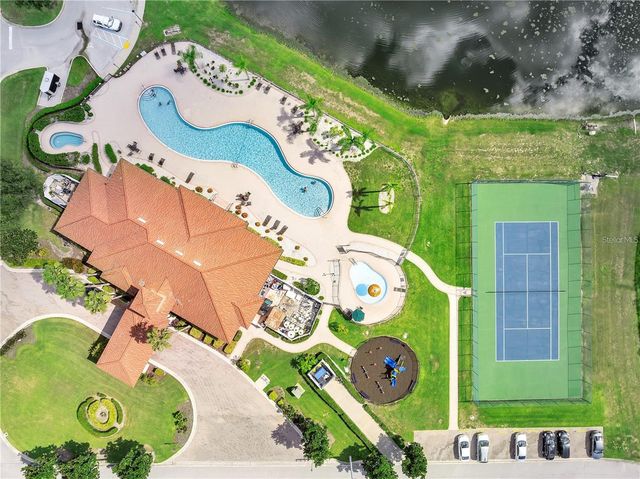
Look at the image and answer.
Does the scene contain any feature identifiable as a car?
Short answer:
Yes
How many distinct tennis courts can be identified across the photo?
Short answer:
1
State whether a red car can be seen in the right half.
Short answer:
No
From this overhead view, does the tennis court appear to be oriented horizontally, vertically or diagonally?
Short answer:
vertically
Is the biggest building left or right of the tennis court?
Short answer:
left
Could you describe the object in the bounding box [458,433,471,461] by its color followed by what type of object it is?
white vehicle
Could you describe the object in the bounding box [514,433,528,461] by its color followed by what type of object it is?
white car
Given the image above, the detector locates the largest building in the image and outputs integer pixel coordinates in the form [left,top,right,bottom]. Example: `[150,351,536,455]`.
[52,158,282,387]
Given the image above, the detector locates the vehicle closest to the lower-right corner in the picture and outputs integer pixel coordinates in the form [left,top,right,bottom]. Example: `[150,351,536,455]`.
[589,430,605,458]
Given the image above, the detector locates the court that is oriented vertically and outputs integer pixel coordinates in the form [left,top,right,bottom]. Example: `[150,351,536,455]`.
[472,181,580,401]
